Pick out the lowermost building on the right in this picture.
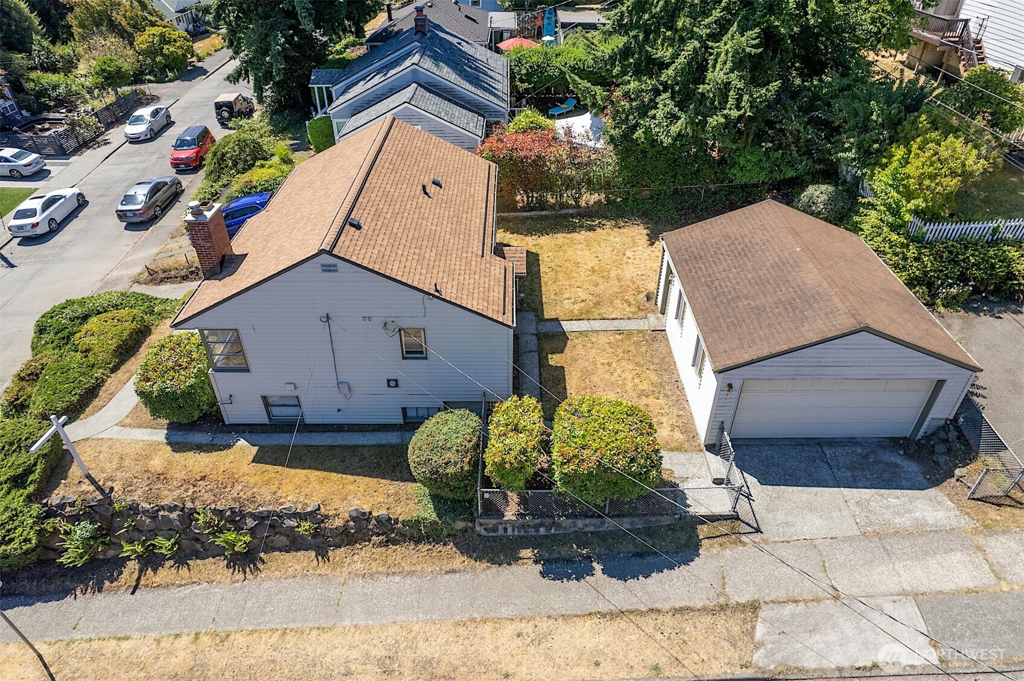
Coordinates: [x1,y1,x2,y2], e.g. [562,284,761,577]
[657,197,985,447]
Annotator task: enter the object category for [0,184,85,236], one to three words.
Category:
car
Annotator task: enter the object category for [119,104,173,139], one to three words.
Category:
car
